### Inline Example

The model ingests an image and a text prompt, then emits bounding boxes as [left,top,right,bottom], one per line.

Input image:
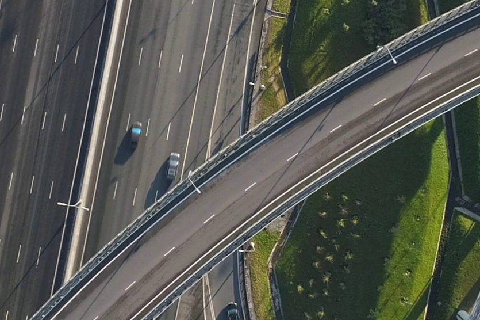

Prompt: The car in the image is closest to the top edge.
[129,122,142,148]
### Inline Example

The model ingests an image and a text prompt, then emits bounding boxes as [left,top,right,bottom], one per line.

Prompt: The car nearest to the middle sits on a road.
[166,152,180,181]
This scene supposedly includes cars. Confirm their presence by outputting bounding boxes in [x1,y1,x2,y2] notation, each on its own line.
[166,152,180,181]
[129,122,142,148]
[225,303,238,320]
